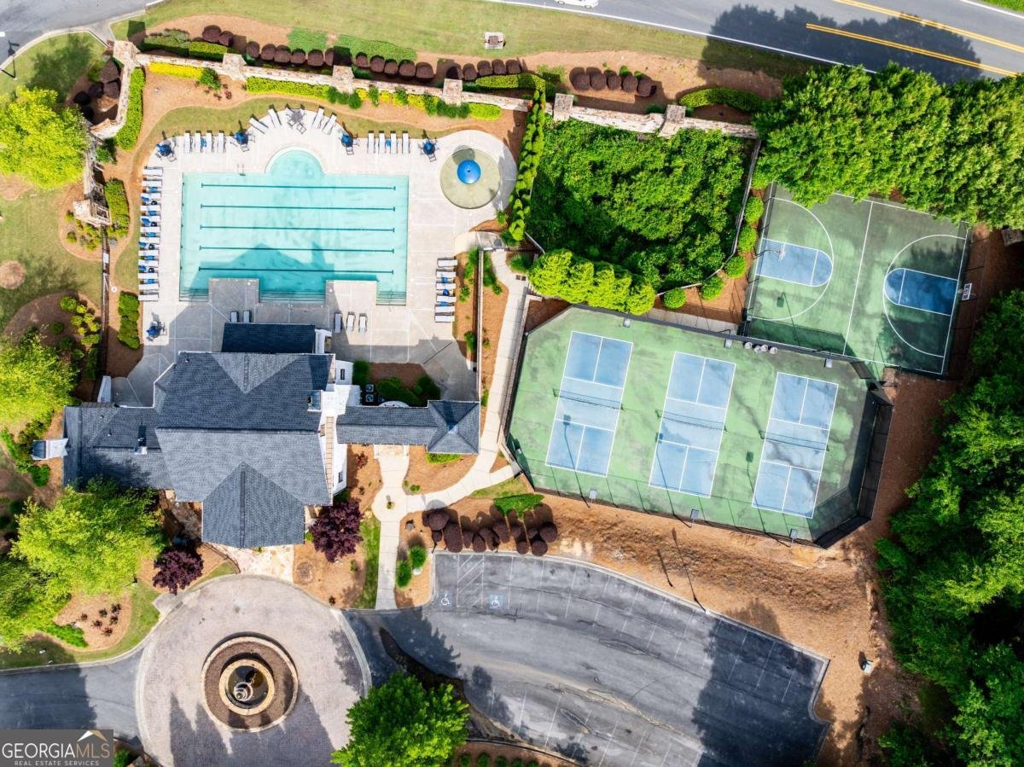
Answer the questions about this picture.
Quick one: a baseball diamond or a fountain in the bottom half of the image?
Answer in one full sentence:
Visible in the bottom half of the image is a fountain.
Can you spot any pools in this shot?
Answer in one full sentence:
Yes, a pool appears in the view.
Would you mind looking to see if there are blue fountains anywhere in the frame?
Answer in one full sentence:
Yes, there's a blue fountain here.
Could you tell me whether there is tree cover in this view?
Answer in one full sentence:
Yes, the picture does contain tree cover.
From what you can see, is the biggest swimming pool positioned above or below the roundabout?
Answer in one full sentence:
Relative to the roundabout, the biggest swimming pool lies above it.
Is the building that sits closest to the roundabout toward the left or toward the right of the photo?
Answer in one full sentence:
The building that sits closest to the roundabout is on the left side of the image.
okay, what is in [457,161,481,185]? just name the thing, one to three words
fountain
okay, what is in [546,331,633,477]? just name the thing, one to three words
sports court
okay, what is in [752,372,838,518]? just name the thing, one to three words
sports court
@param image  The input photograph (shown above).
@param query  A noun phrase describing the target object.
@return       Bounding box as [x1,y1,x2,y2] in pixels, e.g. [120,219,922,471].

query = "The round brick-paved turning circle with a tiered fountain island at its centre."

[136,575,371,767]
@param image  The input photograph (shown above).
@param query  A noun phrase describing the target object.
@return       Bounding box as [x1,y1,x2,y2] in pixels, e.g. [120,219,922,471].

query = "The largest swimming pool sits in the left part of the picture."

[111,108,517,406]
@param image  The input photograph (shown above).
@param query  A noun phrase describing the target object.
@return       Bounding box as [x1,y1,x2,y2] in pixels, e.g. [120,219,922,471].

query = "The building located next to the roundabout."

[32,322,480,553]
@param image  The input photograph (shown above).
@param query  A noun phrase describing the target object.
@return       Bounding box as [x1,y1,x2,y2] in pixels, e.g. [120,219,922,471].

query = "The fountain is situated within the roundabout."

[218,658,276,716]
